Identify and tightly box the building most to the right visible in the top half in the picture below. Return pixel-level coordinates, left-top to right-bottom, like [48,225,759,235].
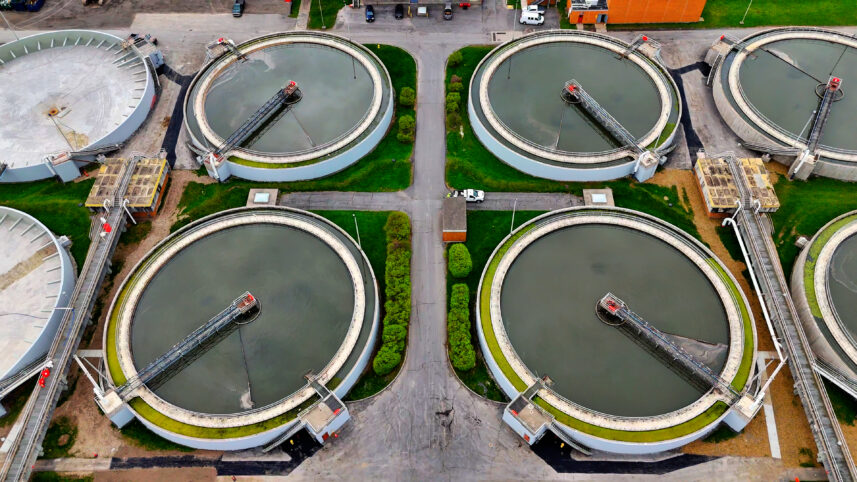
[689,143,781,221]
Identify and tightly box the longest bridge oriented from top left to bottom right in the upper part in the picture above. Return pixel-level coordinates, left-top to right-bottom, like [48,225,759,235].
[564,80,654,158]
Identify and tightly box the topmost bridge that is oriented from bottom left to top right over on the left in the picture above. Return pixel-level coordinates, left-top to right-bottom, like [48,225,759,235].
[209,81,298,159]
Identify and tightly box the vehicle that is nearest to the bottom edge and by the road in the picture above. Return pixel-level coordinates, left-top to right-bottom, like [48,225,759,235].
[454,189,485,202]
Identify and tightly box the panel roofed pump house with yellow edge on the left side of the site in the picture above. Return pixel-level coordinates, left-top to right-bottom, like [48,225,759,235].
[84,144,175,220]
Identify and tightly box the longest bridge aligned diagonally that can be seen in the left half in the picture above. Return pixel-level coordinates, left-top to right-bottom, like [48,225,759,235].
[110,291,255,399]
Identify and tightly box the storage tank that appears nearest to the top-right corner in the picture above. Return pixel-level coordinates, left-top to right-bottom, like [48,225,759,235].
[697,28,857,186]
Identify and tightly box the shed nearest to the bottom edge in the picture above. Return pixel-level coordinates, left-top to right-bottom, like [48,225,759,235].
[442,198,467,239]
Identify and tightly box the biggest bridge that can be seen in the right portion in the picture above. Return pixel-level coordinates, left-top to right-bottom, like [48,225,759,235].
[600,293,747,402]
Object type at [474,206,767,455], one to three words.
storage tank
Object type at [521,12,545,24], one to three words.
vehicle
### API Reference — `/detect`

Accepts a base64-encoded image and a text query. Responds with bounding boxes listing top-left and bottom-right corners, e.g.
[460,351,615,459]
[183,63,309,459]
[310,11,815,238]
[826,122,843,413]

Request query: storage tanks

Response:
[182,32,395,184]
[697,28,857,186]
[467,30,682,184]
[0,31,173,186]
[474,206,767,455]
[0,207,78,418]
[91,206,382,453]
[781,208,857,427]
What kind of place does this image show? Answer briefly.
industrial area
